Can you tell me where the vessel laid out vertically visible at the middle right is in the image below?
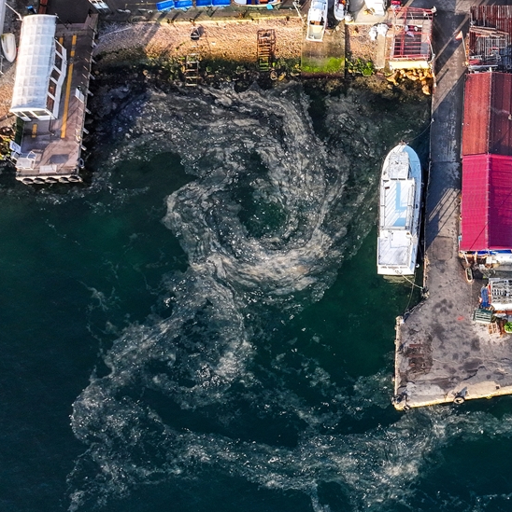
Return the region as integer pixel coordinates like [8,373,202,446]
[377,126,427,310]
